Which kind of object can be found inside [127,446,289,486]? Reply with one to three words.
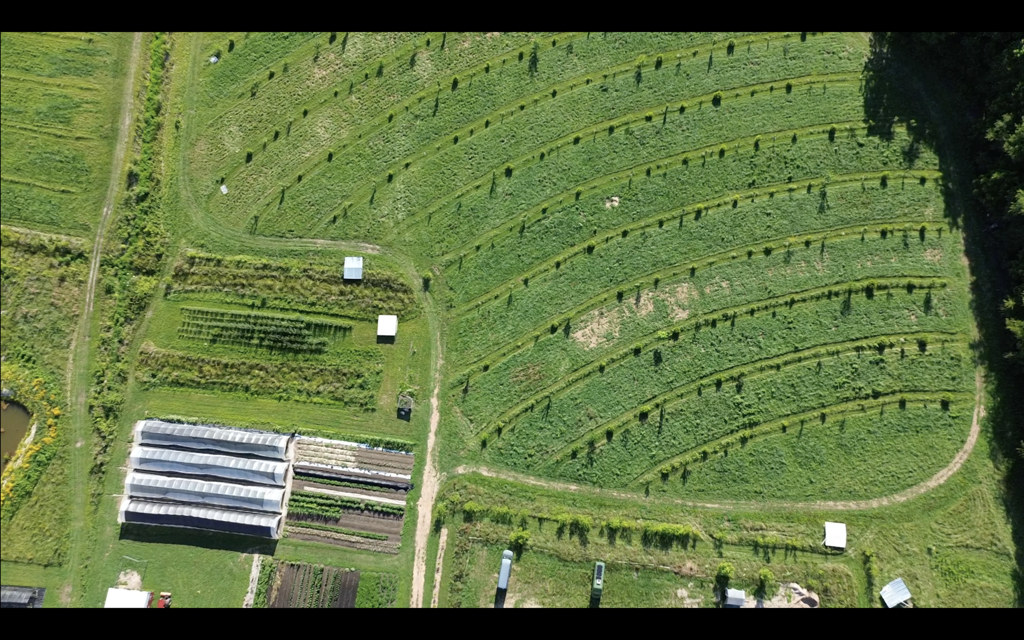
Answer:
greenhouse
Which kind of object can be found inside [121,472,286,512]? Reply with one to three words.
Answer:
greenhouse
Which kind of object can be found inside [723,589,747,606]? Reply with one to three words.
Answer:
shed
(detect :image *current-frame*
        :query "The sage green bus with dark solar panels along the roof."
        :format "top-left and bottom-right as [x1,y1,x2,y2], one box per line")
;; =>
[589,562,605,600]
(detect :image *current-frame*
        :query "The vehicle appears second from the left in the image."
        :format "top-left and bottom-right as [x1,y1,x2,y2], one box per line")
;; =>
[498,549,513,590]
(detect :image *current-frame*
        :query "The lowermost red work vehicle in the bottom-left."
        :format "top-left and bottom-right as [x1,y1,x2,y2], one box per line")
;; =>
[158,590,172,608]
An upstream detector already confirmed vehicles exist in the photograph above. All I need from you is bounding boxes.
[589,562,605,600]
[158,590,172,608]
[498,549,513,590]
